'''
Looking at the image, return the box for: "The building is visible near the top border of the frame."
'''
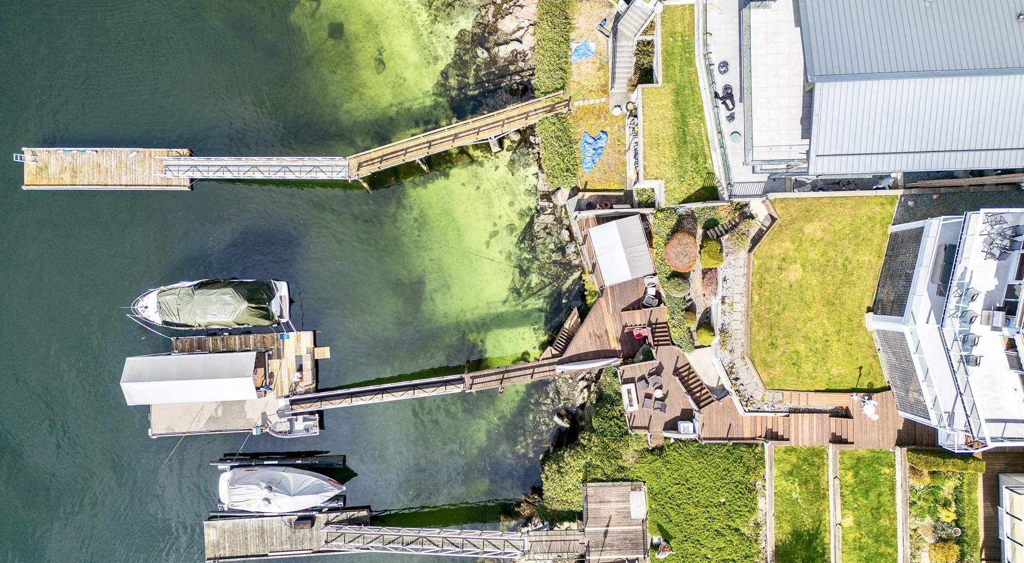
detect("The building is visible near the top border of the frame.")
[738,0,1024,182]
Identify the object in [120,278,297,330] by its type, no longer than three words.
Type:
boat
